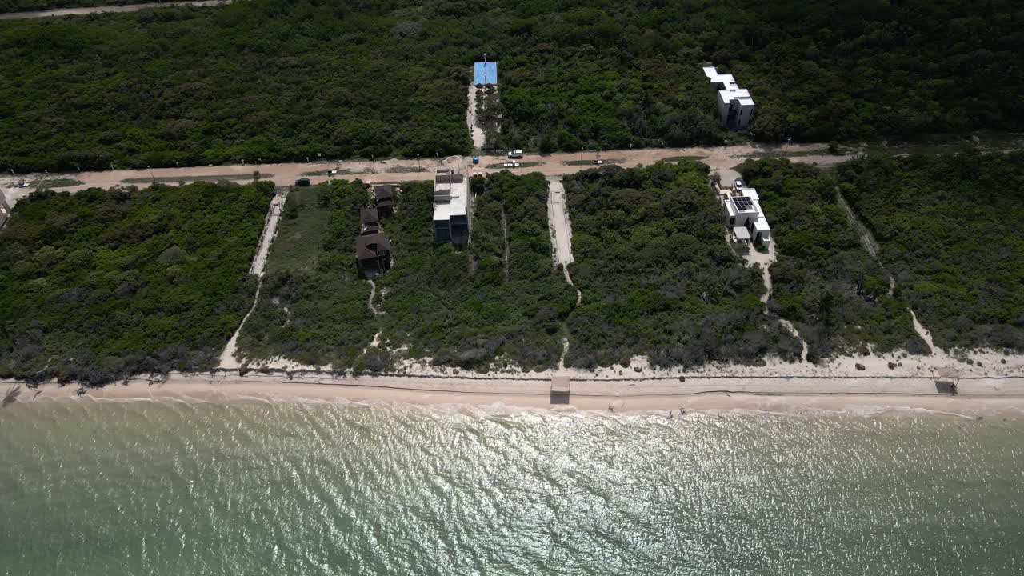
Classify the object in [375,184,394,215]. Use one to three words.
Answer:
shed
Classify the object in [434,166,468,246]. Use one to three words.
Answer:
building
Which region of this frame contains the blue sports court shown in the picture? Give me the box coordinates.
[473,61,497,84]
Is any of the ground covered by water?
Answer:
Yes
